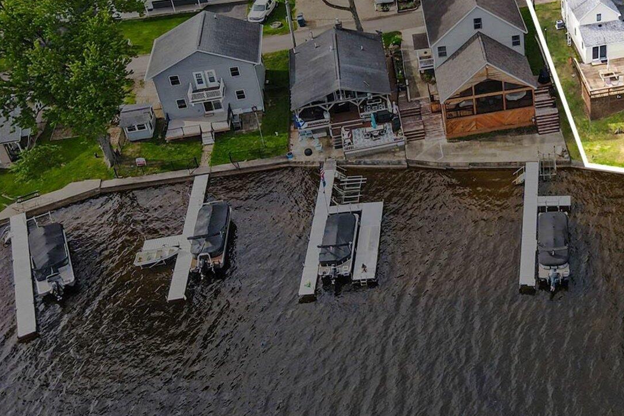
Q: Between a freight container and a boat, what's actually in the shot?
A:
boat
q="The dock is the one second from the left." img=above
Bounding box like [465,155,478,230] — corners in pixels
[141,173,211,306]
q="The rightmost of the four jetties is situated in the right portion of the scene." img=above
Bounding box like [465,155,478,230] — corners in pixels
[518,164,571,291]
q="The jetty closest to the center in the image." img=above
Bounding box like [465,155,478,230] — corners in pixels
[297,163,384,298]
